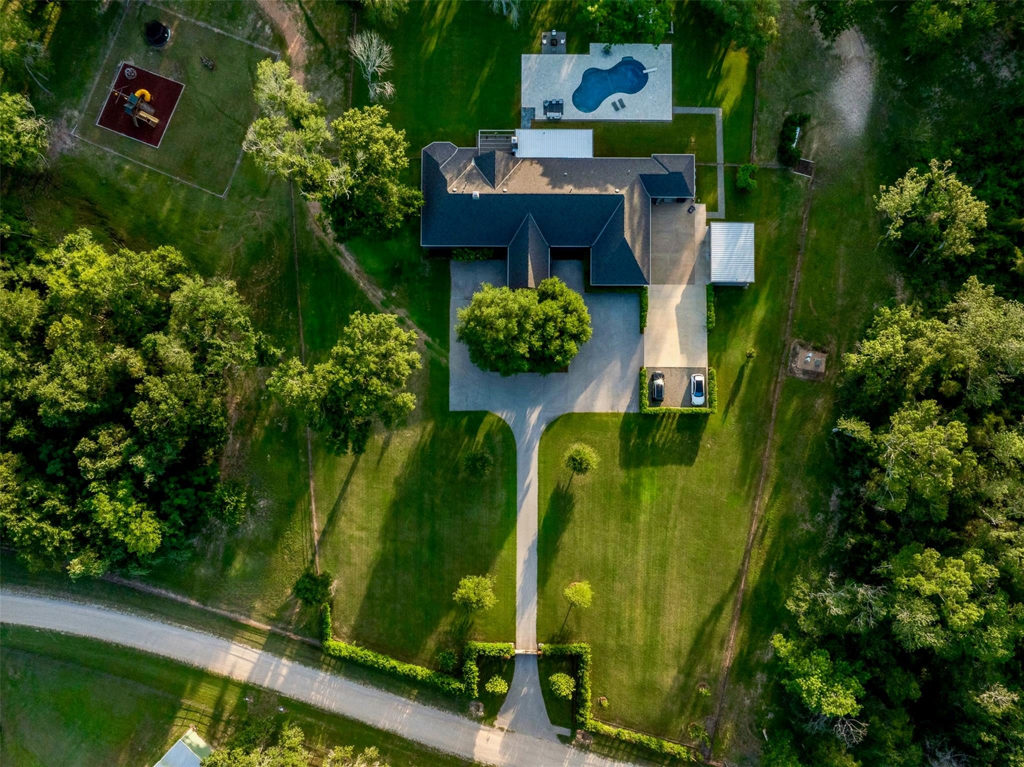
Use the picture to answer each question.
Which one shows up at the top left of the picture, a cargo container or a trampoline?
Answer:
trampoline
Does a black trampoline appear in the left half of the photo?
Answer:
Yes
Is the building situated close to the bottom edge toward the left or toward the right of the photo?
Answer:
left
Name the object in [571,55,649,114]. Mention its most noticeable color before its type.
blue swimming pool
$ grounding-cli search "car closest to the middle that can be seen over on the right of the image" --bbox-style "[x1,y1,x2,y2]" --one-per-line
[652,372,667,401]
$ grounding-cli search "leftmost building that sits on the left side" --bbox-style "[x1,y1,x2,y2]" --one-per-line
[154,722,219,767]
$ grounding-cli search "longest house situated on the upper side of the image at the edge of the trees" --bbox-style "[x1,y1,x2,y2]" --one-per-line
[420,136,696,289]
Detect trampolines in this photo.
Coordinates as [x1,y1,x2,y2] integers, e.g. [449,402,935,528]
[138,15,169,46]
